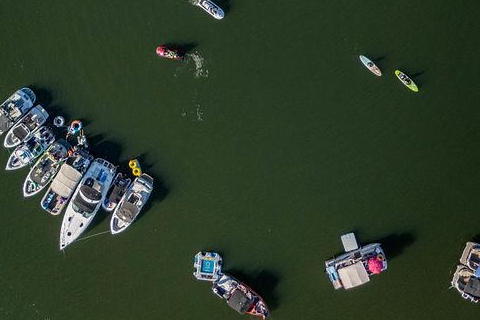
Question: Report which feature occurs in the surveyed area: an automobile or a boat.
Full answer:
Visible in the photo is a boat.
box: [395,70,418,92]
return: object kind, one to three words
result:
boat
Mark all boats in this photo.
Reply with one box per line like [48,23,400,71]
[323,242,391,295]
[39,146,95,217]
[444,263,480,308]
[108,172,159,237]
[23,138,76,198]
[6,124,61,172]
[4,101,52,147]
[59,155,120,254]
[197,0,225,18]
[156,47,187,60]
[395,70,418,92]
[210,266,268,320]
[0,85,39,134]
[105,169,135,208]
